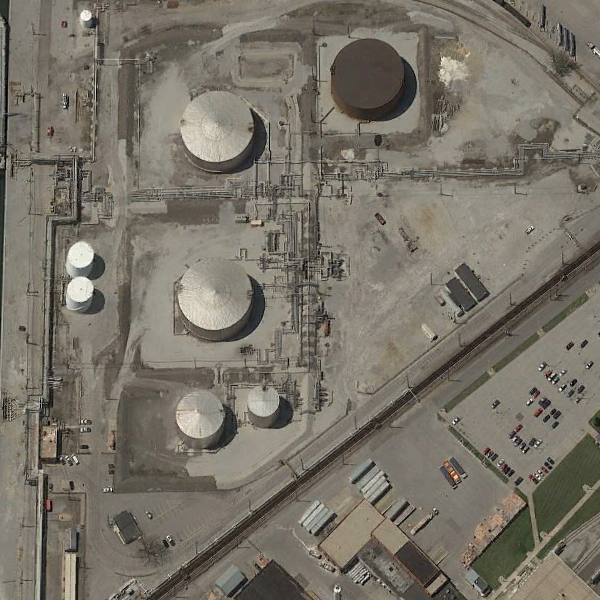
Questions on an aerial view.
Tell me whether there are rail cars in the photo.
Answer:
Yes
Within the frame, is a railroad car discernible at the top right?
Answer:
Yes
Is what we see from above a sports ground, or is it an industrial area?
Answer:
industrial area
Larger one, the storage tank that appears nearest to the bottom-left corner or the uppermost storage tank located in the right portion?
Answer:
the uppermost storage tank located in the right portion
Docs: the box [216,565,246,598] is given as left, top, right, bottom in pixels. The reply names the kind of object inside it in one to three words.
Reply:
shed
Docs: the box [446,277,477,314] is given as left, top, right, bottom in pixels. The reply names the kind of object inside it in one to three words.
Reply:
building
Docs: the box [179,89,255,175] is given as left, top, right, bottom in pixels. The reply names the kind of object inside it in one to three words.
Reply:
storage tank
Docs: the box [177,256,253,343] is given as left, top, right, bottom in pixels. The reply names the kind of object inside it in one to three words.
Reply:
storage tank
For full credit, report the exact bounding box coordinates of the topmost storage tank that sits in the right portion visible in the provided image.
[331,37,405,122]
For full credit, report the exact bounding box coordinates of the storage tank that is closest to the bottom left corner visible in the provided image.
[175,390,225,451]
